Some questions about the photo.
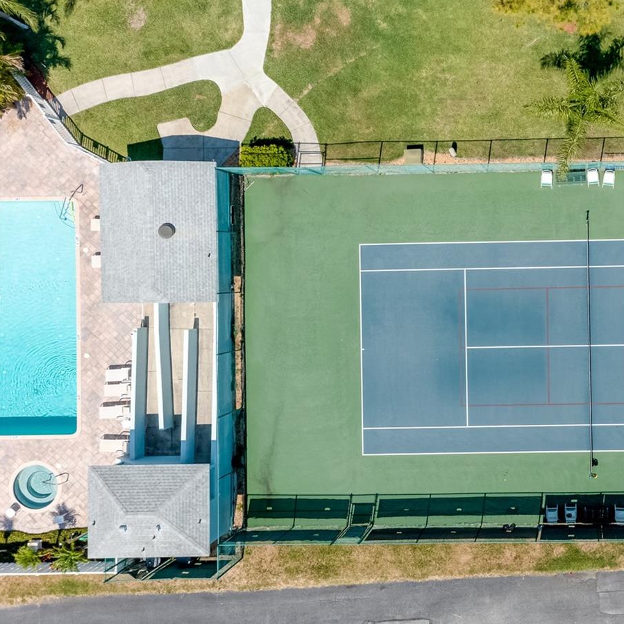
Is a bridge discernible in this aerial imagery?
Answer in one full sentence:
No, there isn't any bridge down there.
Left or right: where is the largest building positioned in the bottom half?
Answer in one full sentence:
The largest building positioned in the bottom half sits on the left side.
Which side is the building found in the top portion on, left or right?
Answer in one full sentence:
It is on the left.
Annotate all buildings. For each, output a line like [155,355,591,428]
[99,160,232,303]
[88,458,218,559]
